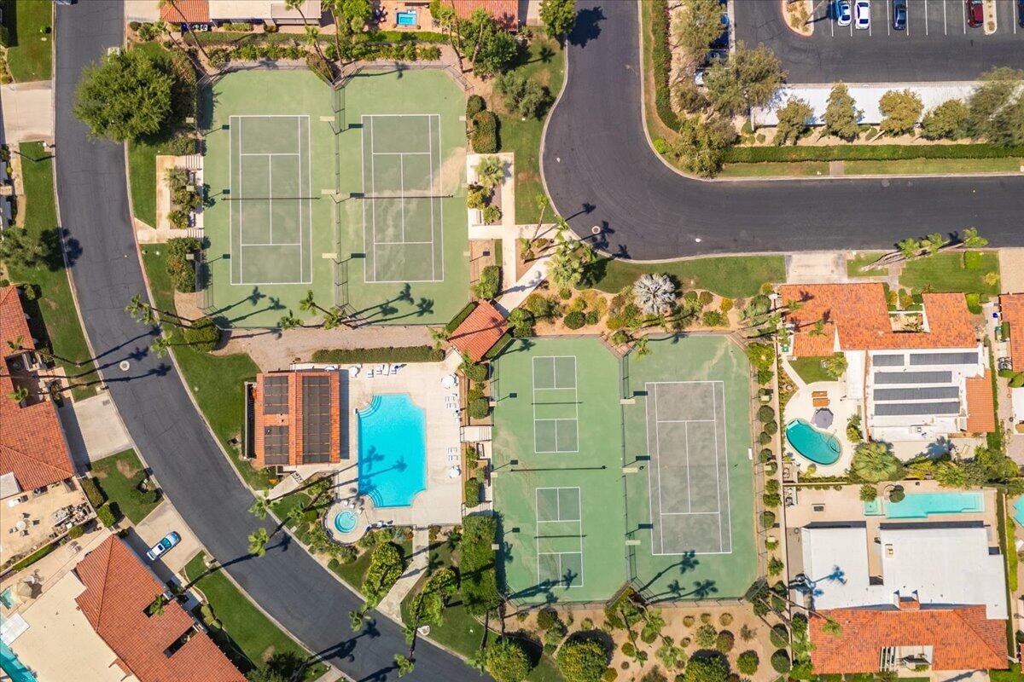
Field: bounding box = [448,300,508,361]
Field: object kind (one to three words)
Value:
building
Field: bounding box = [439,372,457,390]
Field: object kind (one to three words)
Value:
umbrella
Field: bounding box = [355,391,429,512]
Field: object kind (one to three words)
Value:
swimming pool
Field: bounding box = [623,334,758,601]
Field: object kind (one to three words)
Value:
tennis court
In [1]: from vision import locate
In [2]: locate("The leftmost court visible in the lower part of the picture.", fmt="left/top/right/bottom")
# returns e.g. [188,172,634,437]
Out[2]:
[492,338,629,605]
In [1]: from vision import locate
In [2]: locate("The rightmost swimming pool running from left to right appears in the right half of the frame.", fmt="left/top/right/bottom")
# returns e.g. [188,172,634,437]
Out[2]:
[883,490,987,522]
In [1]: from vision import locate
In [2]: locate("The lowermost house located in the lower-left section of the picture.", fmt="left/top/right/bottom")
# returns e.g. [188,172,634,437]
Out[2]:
[0,535,245,682]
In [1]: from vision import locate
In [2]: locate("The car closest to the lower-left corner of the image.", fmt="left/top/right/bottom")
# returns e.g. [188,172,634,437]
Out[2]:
[144,532,180,564]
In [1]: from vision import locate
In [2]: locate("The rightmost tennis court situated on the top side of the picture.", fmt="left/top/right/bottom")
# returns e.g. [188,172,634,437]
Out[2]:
[336,70,469,327]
